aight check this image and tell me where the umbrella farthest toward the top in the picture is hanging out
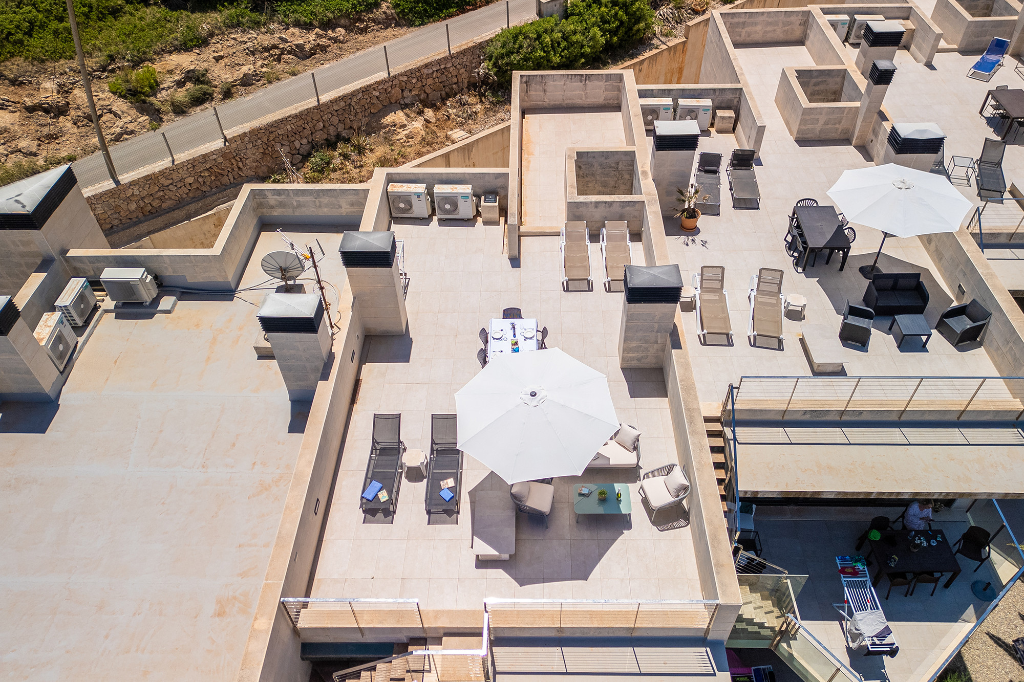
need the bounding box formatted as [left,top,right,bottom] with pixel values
[826,162,973,277]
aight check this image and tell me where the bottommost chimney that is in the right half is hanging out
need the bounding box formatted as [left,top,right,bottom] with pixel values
[619,260,683,369]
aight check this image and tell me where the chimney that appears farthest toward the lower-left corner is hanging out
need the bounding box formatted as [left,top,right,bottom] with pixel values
[0,297,64,400]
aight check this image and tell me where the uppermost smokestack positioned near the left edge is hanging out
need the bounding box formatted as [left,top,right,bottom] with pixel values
[0,163,108,292]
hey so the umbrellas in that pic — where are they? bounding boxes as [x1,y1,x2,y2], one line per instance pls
[452,349,623,486]
[826,162,973,277]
